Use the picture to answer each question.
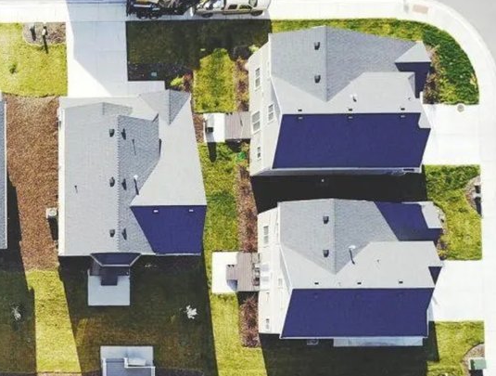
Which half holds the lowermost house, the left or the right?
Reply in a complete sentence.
You can find the lowermost house on the right side of the picture.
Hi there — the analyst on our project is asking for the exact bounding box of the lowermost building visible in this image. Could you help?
[256,198,437,339]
